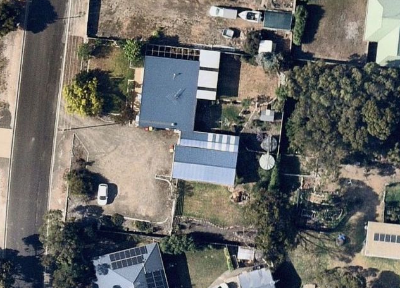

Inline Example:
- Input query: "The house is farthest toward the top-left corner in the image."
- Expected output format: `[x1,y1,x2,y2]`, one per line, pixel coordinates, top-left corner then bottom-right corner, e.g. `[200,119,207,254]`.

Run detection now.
[138,45,220,133]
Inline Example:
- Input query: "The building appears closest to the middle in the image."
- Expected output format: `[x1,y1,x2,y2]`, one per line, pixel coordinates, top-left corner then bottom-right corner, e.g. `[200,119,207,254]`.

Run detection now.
[171,132,239,187]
